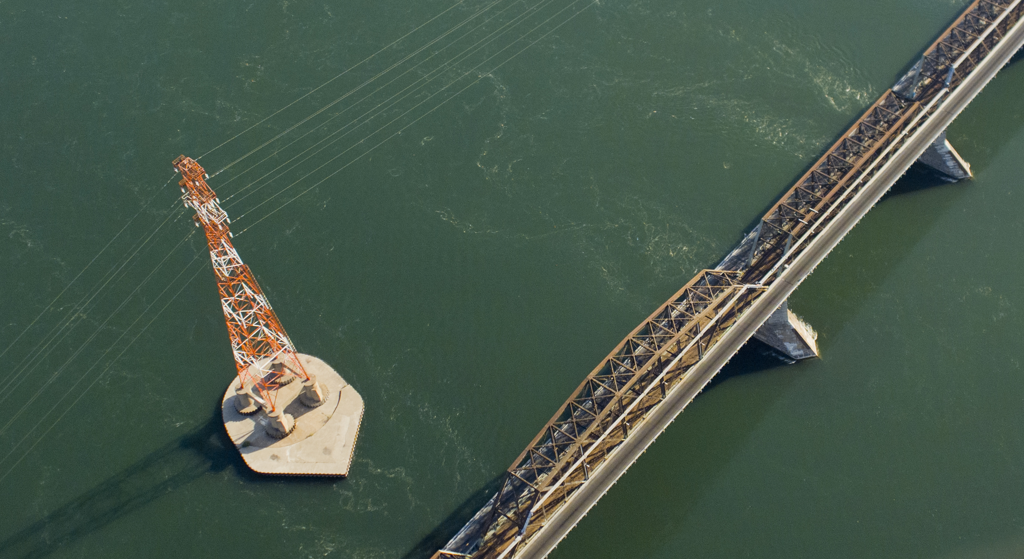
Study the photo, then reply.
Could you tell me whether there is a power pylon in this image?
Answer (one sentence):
Yes, you can see a power pylon in this photo.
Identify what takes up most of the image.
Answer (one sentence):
For the most part, this view shows water.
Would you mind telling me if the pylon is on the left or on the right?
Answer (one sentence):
You can find the pylon on the left side of the picture.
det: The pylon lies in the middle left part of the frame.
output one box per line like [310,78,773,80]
[172,153,312,412]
